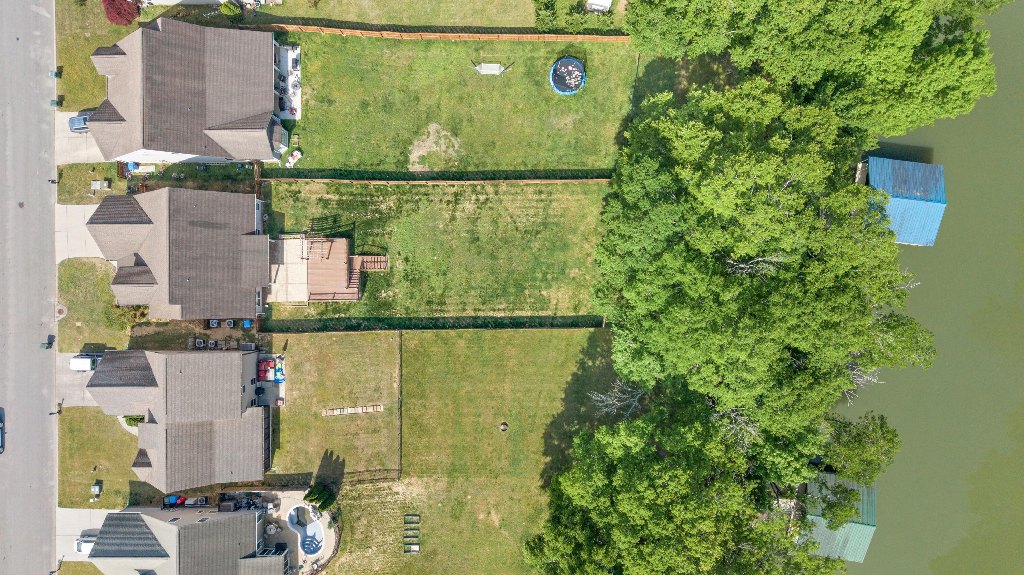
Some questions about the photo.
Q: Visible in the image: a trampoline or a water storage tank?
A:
trampoline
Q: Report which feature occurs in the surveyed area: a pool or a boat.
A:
pool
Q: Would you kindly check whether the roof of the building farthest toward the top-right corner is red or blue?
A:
blue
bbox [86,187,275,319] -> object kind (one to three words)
house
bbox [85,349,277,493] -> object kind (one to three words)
house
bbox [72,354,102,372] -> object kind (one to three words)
car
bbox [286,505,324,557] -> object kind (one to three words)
swimming pool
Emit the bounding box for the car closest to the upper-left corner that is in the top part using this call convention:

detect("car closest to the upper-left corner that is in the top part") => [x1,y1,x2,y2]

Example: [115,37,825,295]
[68,116,92,136]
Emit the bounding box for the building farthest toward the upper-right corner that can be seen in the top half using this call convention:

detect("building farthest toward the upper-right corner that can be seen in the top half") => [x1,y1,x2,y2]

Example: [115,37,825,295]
[861,156,947,246]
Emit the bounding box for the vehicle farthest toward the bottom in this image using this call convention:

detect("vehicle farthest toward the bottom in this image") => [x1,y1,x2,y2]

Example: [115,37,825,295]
[75,534,97,552]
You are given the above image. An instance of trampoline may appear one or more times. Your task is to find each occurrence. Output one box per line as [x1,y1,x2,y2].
[550,53,586,95]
